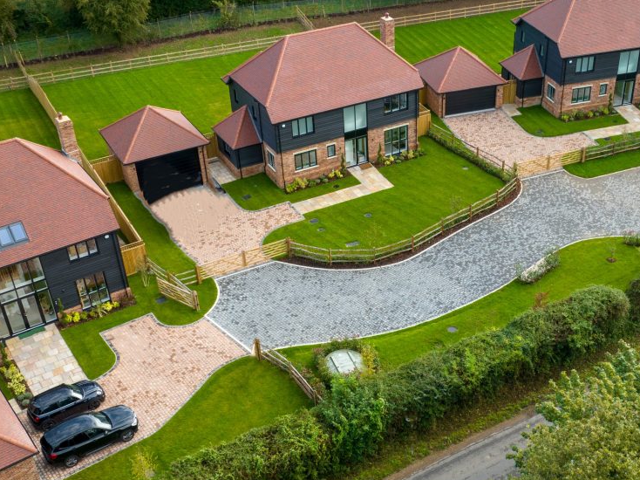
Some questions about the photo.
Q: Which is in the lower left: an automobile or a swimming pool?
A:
automobile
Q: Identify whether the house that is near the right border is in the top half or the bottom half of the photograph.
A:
top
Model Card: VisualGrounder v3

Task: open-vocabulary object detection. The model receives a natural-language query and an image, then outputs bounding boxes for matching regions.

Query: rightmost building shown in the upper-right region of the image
[499,0,640,117]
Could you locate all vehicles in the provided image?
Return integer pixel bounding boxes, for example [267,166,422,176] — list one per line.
[17,377,106,431]
[37,405,139,470]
